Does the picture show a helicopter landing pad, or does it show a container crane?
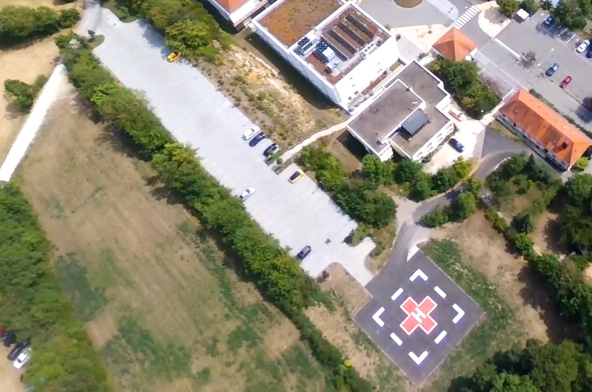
helicopter landing pad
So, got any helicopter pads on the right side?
Yes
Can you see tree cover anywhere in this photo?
Yes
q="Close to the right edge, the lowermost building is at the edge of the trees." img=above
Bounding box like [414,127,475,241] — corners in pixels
[499,88,592,173]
